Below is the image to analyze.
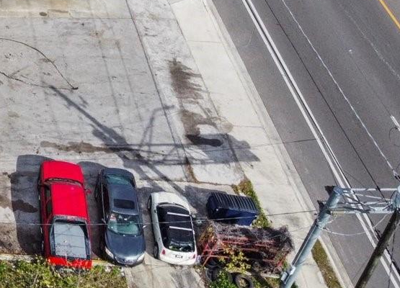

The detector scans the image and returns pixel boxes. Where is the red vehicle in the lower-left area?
[33,155,95,269]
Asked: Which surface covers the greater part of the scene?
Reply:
paved ground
